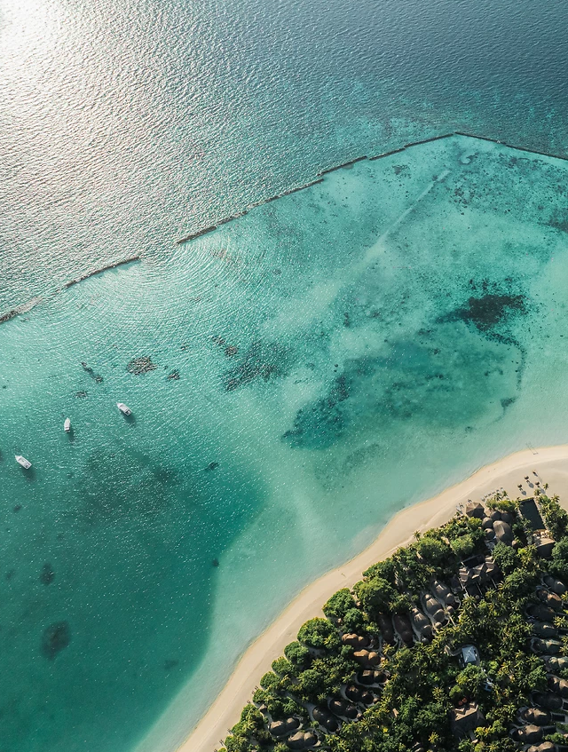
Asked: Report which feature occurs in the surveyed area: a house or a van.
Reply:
house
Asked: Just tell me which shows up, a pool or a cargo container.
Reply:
pool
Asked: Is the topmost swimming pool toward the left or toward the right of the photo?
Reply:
right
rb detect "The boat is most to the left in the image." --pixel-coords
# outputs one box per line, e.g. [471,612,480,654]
[15,456,32,471]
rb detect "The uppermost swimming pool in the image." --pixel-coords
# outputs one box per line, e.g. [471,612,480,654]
[518,496,547,534]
